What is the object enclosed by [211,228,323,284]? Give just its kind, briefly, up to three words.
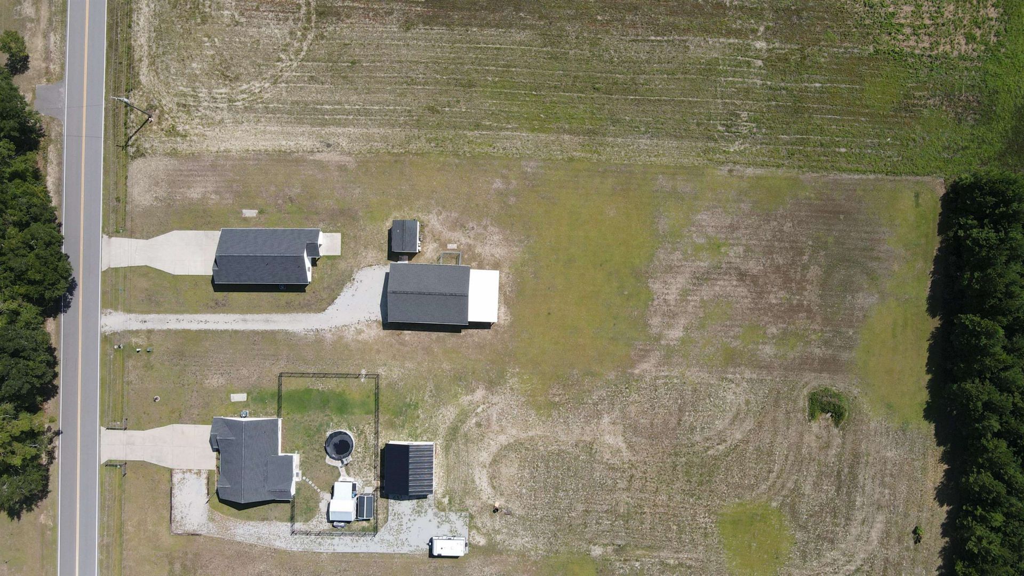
house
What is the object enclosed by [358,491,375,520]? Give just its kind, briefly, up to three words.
greenhouse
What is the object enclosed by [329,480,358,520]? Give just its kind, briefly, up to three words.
shed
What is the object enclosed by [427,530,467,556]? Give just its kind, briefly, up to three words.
vehicle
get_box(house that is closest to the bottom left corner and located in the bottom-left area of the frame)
[210,416,302,503]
